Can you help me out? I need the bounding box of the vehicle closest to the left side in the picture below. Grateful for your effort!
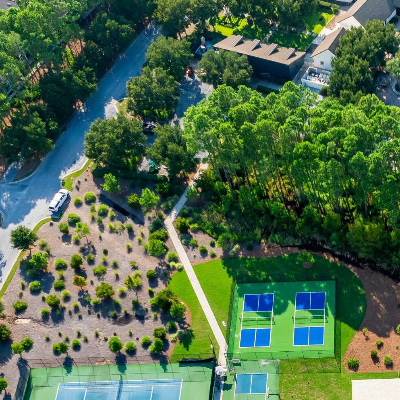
[51,191,70,211]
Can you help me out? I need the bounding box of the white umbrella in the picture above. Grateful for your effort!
[214,365,229,378]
